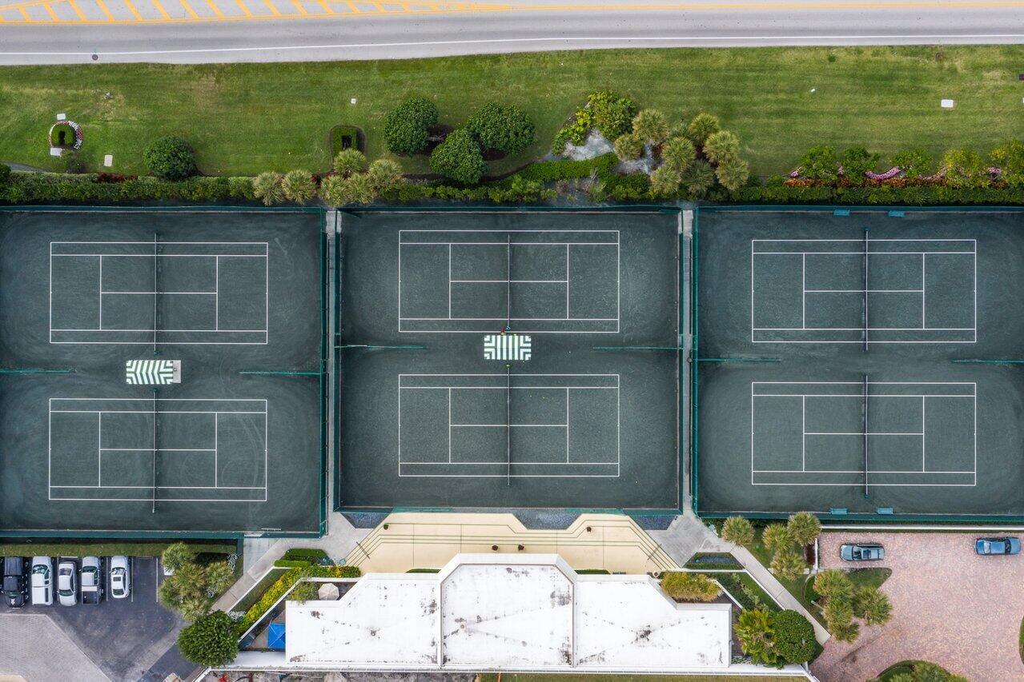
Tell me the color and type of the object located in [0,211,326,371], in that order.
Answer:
gray tennis court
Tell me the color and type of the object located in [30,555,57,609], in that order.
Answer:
white truck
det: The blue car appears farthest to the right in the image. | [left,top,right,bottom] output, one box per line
[972,536,1019,558]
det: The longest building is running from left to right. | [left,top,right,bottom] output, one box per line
[285,554,733,668]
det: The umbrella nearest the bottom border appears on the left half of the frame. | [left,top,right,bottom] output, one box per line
[320,581,340,601]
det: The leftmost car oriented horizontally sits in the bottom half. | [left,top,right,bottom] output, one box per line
[838,542,885,565]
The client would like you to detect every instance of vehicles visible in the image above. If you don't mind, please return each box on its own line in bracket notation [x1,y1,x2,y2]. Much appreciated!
[80,555,106,606]
[58,561,82,606]
[30,555,57,609]
[972,536,1019,558]
[109,555,133,599]
[838,542,885,565]
[2,556,29,608]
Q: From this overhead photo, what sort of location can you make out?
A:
sports ground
